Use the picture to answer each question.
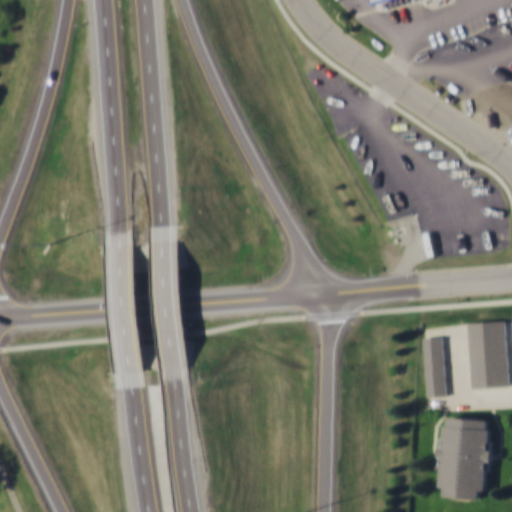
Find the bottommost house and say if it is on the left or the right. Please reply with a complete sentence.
It is on the right.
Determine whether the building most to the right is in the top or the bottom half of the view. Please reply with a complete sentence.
The building most to the right is in the bottom half of the image.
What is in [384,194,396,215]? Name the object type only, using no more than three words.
vehicle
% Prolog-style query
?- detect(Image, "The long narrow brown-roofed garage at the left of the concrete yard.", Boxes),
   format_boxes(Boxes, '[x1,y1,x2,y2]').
[424,337,447,396]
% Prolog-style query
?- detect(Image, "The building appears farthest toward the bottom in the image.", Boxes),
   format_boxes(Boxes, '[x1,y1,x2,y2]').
[434,419,490,499]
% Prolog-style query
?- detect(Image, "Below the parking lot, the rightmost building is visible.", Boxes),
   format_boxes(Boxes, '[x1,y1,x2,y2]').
[466,322,512,388]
